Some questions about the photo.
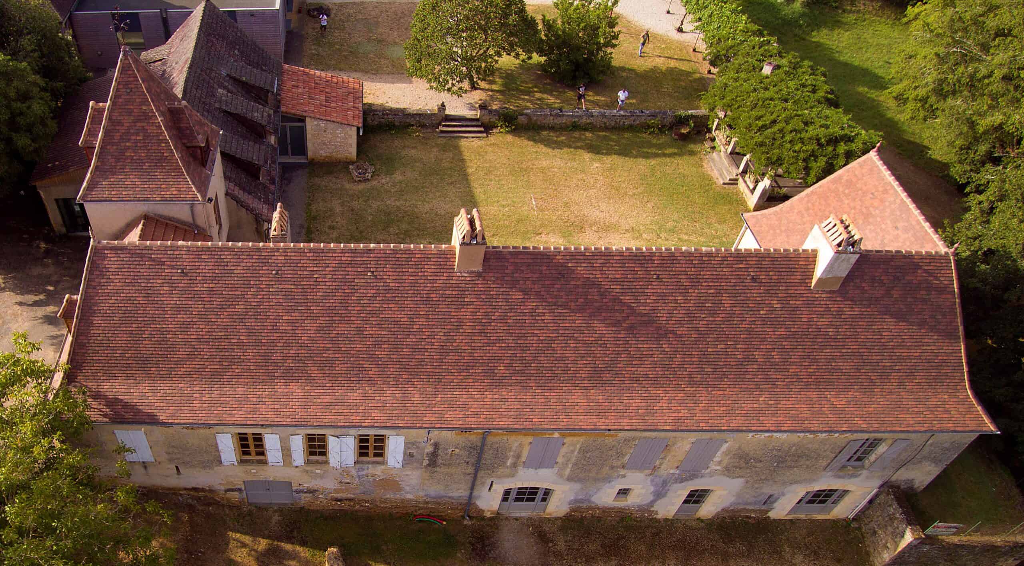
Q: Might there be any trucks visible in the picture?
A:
No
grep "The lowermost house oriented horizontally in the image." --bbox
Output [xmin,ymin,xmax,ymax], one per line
[30,139,1004,523]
